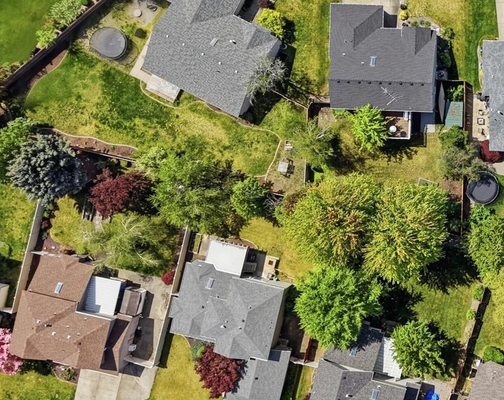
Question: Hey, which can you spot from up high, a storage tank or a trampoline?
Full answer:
I can see a trampoline in this picture.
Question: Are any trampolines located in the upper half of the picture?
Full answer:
Yes, you'll find a trampoline in the upper half of the picture.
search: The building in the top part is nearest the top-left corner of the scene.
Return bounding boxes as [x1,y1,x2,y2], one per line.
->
[138,0,280,115]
